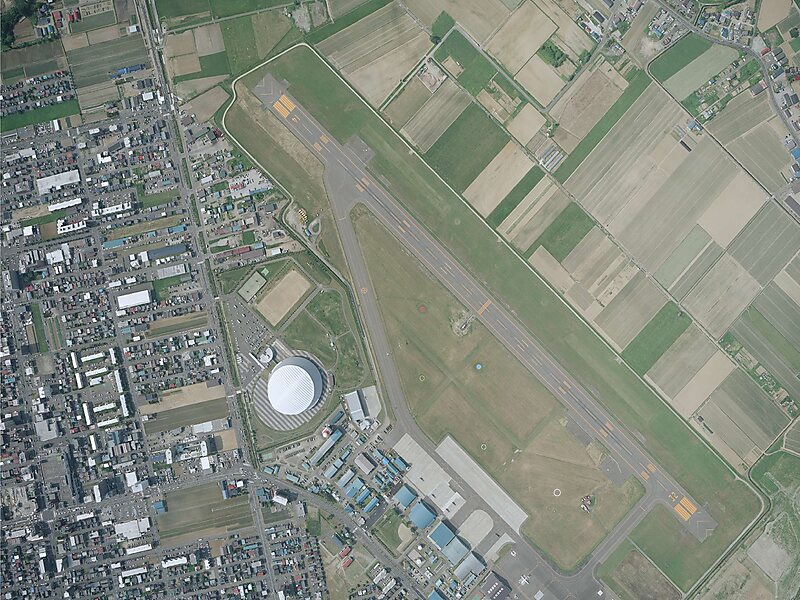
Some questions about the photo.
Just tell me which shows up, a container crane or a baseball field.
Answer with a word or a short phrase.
baseball field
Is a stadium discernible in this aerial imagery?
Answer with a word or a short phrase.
Yes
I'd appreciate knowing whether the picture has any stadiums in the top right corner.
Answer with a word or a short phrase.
No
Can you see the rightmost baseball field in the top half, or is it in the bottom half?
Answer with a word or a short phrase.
bottom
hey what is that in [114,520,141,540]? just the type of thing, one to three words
building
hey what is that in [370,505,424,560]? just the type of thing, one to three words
baseball field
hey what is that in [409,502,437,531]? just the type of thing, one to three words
hangar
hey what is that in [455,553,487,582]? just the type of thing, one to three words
hangar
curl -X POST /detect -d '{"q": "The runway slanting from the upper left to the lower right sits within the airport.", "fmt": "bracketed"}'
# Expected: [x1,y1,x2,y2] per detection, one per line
[252,73,720,543]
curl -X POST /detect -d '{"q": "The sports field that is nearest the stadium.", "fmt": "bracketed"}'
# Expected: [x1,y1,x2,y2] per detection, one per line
[252,266,315,330]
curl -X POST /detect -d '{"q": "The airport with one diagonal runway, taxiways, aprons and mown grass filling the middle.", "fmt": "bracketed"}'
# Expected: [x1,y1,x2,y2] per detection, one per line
[224,47,762,600]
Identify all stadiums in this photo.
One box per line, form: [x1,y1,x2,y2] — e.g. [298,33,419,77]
[263,355,322,413]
